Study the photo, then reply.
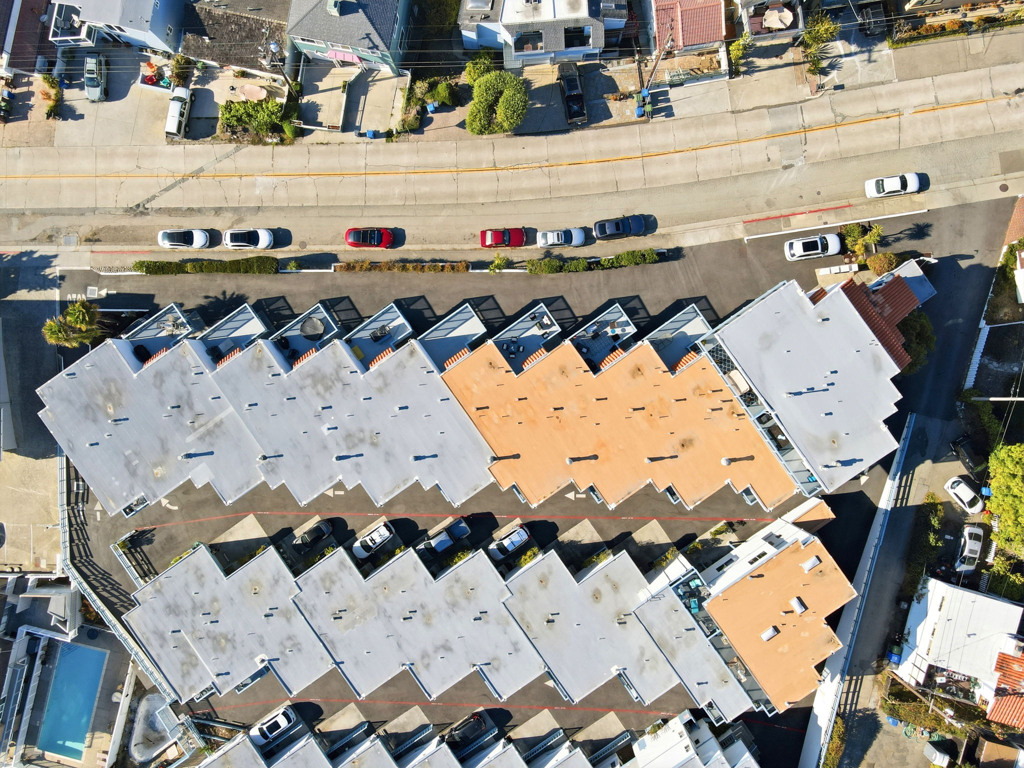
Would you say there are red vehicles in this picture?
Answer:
Yes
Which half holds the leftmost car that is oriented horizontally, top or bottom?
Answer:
top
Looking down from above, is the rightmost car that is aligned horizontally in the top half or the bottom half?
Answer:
top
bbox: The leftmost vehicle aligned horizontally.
[157,226,211,251]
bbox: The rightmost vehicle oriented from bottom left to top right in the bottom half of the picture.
[484,523,534,563]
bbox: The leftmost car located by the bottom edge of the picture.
[247,703,299,744]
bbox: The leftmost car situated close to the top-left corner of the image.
[82,52,110,104]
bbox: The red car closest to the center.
[480,226,526,249]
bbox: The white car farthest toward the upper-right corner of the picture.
[864,172,919,200]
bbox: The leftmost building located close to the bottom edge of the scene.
[0,550,94,768]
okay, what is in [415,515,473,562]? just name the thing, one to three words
truck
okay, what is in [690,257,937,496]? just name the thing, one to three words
house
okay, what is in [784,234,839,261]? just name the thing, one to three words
car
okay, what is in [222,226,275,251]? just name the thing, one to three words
car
